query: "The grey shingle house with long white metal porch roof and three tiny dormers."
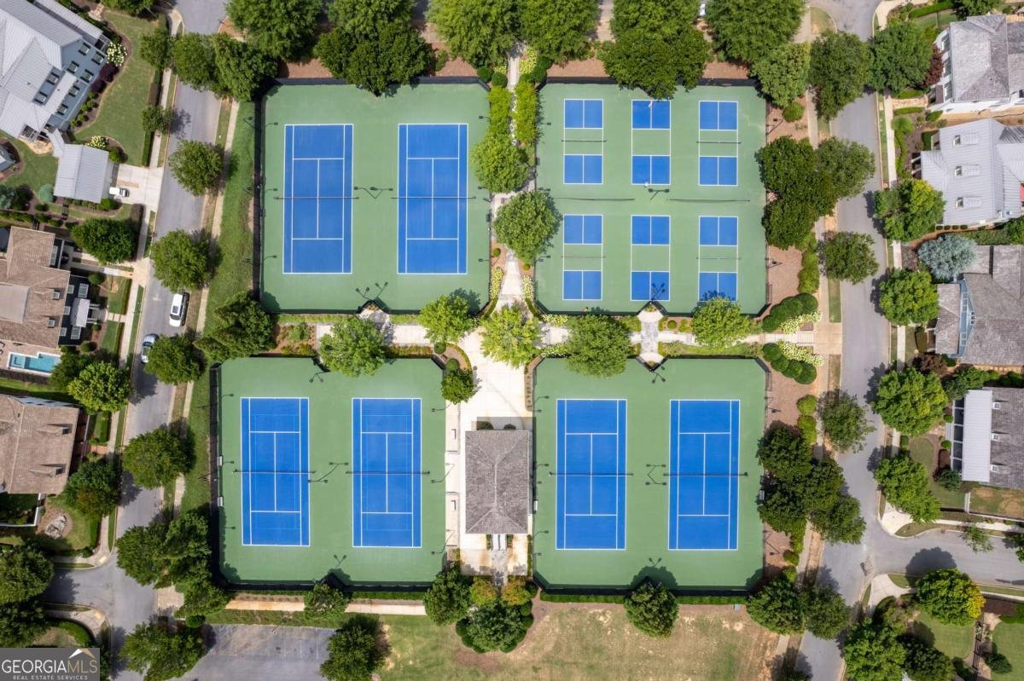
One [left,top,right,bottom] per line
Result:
[942,387,1024,490]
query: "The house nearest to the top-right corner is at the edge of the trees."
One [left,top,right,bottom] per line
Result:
[925,14,1024,112]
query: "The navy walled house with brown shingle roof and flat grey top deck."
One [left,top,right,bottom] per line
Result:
[0,224,101,348]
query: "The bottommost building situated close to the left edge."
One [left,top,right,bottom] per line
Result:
[0,390,90,495]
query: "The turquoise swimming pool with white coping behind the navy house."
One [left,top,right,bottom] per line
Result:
[7,352,56,376]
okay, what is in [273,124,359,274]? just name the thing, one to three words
tennis court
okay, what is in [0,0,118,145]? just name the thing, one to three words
house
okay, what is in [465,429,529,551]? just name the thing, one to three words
building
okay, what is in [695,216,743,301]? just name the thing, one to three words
sports court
